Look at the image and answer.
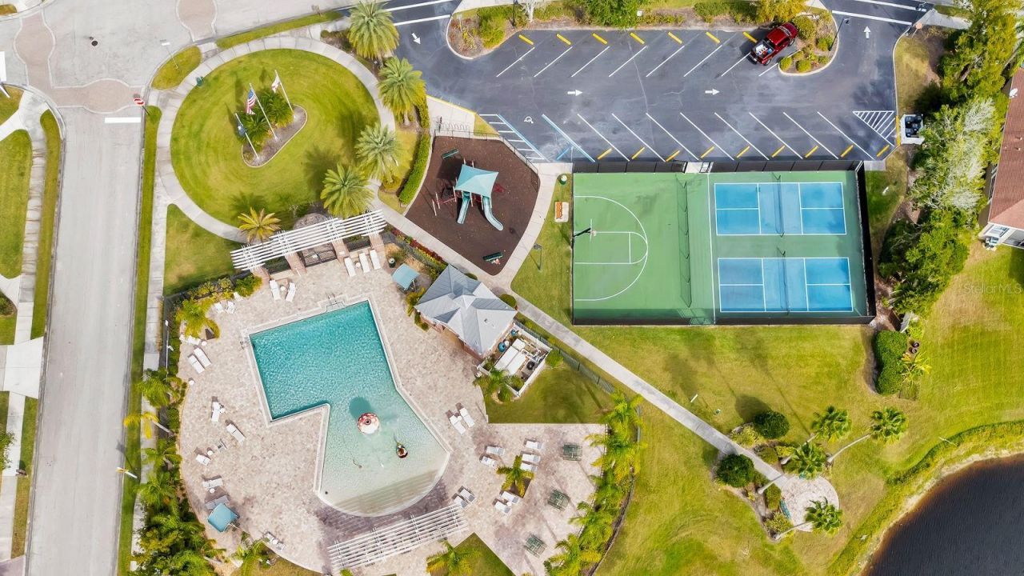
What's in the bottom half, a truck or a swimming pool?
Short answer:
swimming pool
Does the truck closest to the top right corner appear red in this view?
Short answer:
Yes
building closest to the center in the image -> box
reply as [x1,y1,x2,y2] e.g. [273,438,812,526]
[414,265,519,364]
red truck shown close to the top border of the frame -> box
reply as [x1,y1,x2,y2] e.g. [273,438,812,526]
[751,24,799,65]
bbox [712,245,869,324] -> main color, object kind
blue sports court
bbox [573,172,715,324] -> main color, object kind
green basketball court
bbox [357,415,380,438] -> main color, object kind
white fountain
